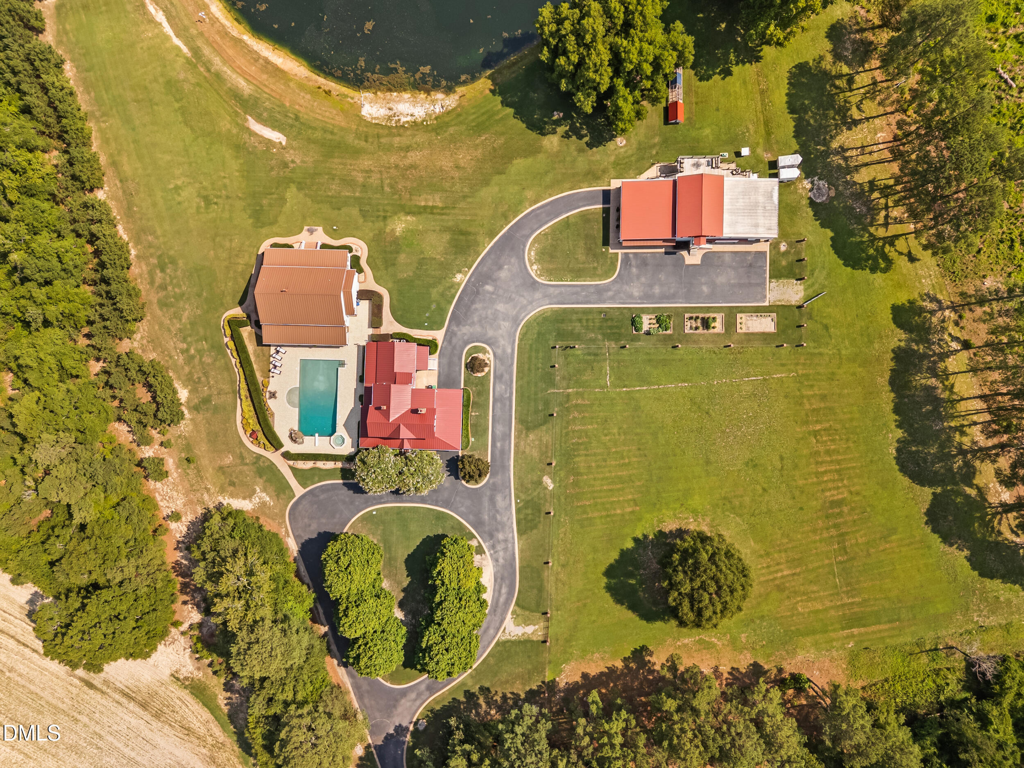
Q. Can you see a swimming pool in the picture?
Yes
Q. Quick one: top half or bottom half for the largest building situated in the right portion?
top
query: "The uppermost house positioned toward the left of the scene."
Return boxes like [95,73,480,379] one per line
[254,248,360,346]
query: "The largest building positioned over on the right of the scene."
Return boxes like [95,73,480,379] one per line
[619,173,778,248]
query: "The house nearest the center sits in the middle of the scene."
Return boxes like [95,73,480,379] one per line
[359,342,463,451]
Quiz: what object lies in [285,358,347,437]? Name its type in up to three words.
swimming pool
